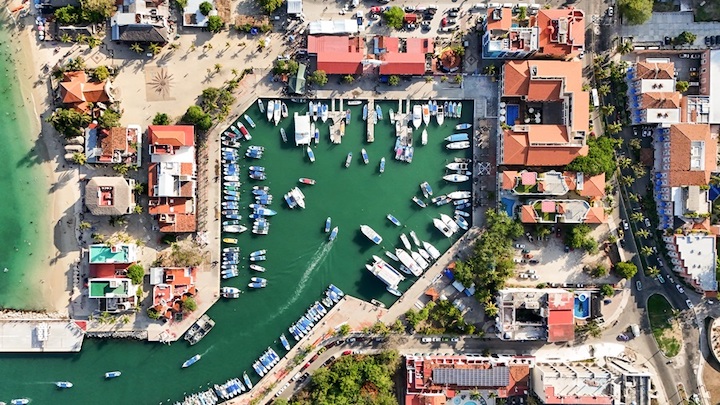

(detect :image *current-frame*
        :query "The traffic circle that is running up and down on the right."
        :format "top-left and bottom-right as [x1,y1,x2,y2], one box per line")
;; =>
[648,292,683,359]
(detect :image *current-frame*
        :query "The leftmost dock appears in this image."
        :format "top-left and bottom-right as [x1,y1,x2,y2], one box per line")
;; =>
[0,318,87,353]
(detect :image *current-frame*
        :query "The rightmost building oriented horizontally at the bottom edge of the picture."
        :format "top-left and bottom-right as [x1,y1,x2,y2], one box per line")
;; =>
[531,354,657,405]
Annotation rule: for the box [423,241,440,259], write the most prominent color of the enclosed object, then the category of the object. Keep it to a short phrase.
white boat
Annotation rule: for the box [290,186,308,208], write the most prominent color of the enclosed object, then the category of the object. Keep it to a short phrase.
white boat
